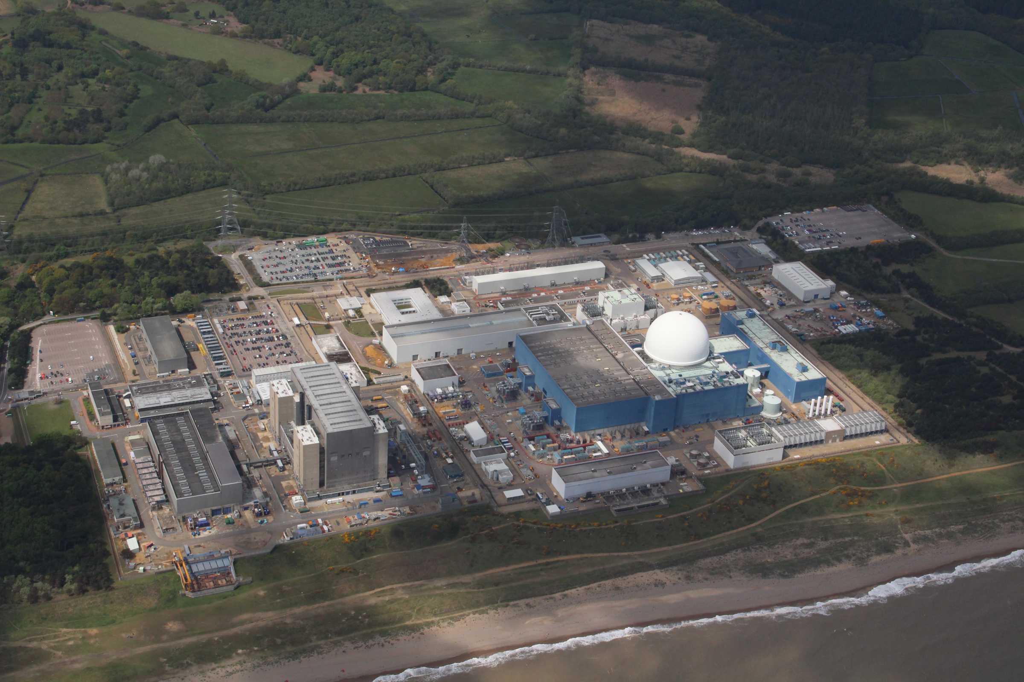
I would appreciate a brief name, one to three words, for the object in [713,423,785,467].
house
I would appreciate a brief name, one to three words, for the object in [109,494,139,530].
building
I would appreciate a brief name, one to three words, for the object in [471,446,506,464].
building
